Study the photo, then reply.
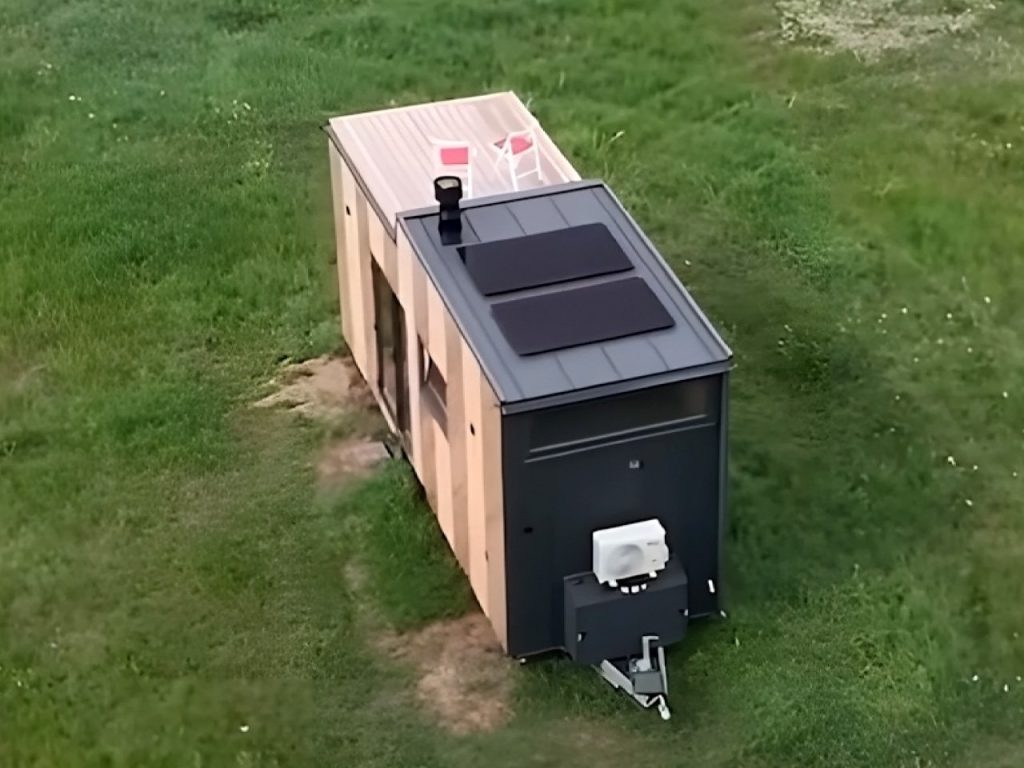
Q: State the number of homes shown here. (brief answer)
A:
1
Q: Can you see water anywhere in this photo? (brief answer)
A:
No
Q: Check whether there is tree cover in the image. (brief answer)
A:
No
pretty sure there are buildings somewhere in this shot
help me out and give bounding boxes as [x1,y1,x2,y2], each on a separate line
[324,93,741,721]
